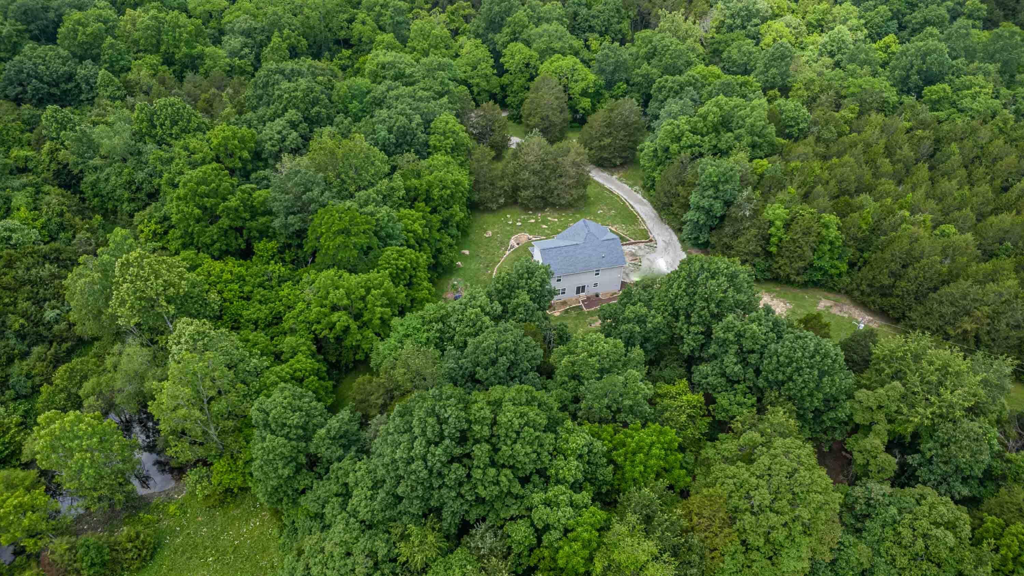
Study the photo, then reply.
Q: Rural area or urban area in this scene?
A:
rural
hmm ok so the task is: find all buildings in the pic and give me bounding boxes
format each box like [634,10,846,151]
[528,216,626,301]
